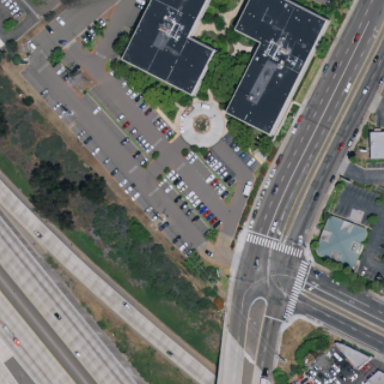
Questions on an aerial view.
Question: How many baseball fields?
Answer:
0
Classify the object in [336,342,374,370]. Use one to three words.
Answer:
building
